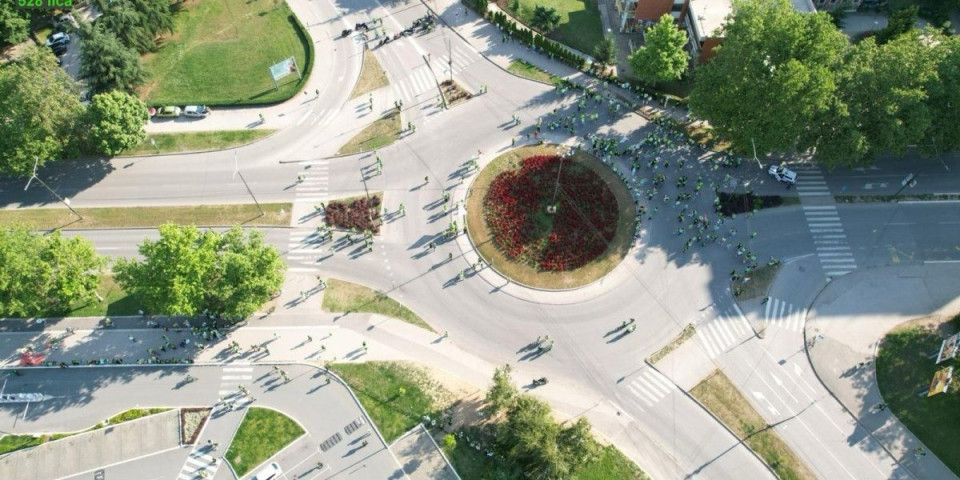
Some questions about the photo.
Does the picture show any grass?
Yes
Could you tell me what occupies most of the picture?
paved ground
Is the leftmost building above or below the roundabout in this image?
above it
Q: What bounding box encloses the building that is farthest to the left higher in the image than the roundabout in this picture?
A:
[617,0,683,34]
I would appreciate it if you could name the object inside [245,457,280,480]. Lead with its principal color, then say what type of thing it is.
white car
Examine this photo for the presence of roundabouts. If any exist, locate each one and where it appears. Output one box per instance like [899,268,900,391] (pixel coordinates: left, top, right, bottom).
[452,132,650,303]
